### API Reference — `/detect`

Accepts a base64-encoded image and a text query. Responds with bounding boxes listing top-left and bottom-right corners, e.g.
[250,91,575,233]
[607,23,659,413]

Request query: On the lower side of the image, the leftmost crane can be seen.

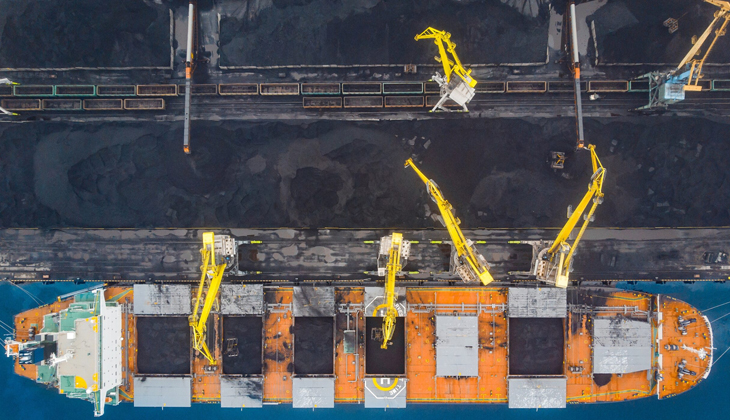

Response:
[187,232,261,365]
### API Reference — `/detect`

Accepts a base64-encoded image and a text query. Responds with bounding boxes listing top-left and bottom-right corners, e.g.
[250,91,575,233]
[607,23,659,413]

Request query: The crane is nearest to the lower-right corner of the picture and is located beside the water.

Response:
[510,145,607,287]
